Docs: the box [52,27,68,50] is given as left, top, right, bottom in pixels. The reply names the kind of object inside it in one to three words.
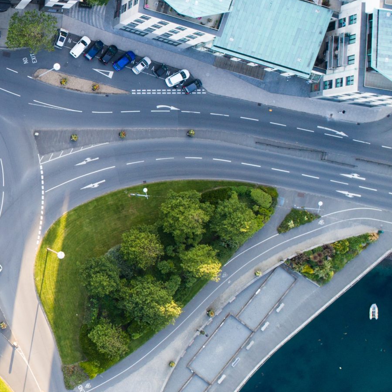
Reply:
car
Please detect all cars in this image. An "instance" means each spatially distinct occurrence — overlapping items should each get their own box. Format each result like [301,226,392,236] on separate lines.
[150,61,169,82]
[84,39,104,61]
[164,66,191,91]
[52,27,68,50]
[68,35,92,60]
[180,76,202,96]
[131,55,152,76]
[111,49,135,73]
[97,44,118,66]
